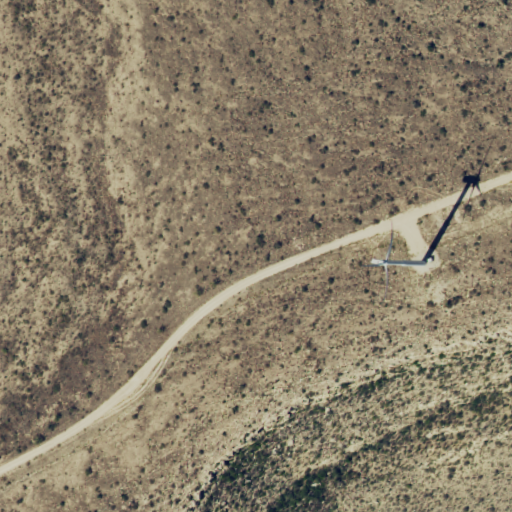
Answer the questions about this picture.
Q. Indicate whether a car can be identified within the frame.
No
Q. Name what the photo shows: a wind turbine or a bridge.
wind turbine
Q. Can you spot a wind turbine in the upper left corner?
No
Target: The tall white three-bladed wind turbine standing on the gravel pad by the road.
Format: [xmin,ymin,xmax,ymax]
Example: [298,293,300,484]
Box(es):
[359,224,430,300]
